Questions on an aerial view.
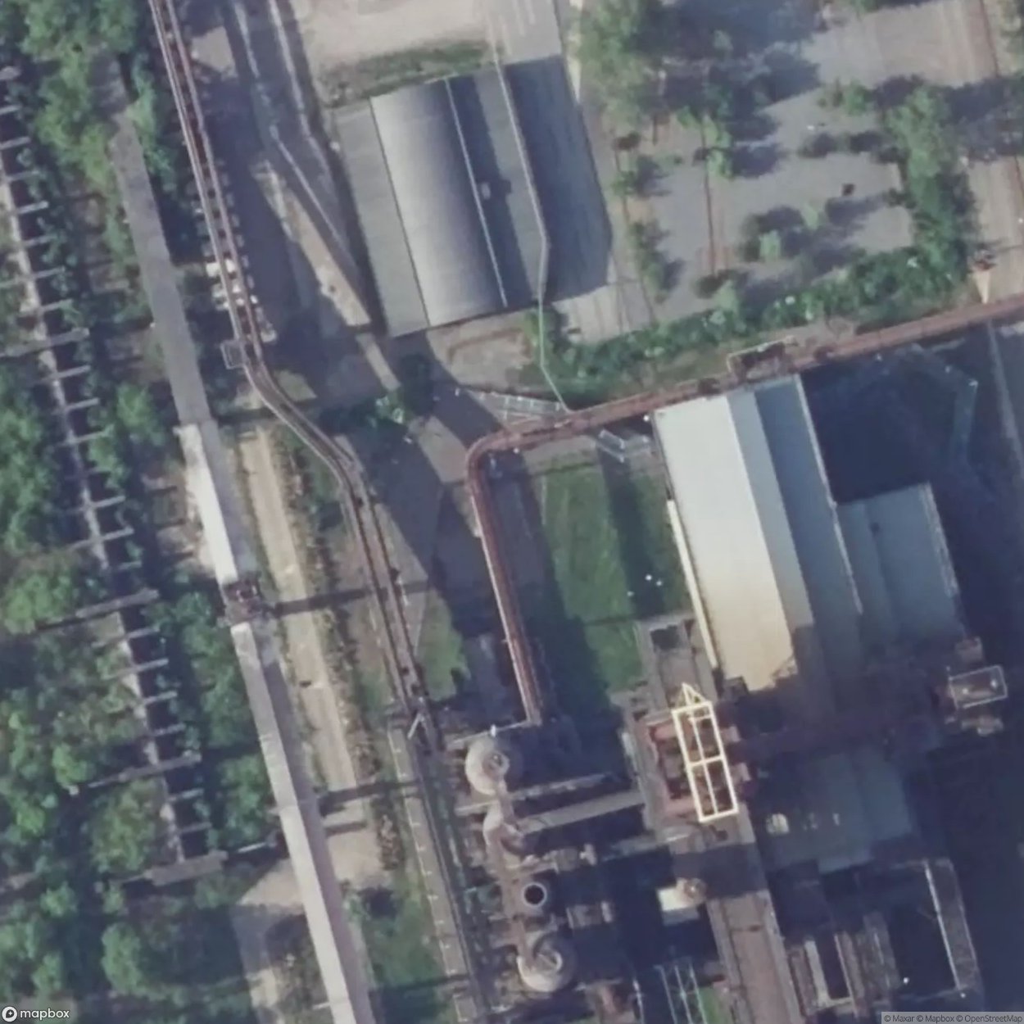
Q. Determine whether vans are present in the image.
No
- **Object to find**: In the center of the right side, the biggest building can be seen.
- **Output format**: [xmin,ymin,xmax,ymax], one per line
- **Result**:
[652,375,885,713]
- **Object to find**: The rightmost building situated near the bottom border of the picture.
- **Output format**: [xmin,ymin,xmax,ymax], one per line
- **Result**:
[891,858,982,996]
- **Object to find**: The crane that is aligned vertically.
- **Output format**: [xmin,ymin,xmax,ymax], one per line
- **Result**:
[672,684,739,821]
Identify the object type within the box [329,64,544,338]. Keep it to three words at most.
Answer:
building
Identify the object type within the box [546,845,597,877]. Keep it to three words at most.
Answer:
building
